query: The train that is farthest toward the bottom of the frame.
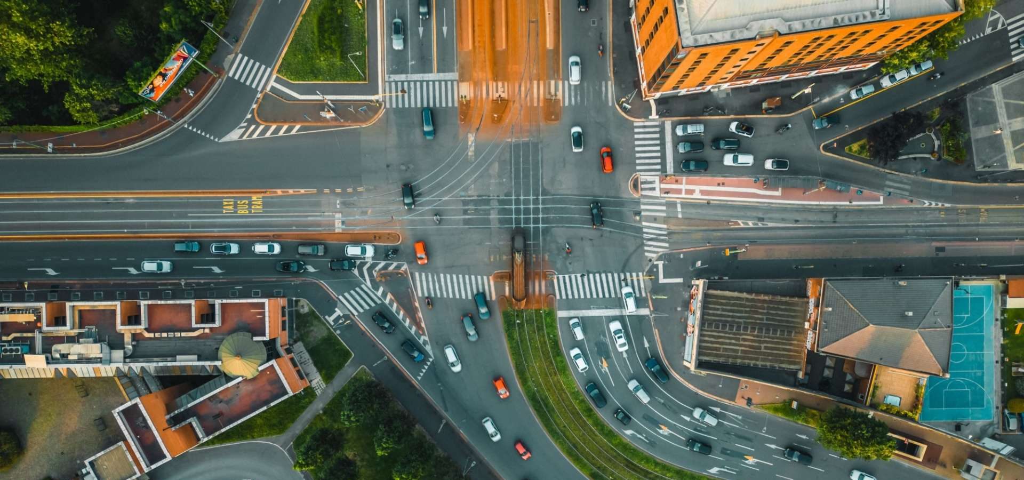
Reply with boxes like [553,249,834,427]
[511,232,526,310]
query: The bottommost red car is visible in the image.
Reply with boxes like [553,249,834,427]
[513,438,533,463]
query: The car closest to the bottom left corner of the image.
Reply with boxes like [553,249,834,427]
[141,259,174,273]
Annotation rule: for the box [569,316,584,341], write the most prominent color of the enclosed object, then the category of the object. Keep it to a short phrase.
white car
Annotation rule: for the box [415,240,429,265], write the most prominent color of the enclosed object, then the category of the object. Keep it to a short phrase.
orange car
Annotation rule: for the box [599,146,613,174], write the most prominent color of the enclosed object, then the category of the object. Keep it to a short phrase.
red car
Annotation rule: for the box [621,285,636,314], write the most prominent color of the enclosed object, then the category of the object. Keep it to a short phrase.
white car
